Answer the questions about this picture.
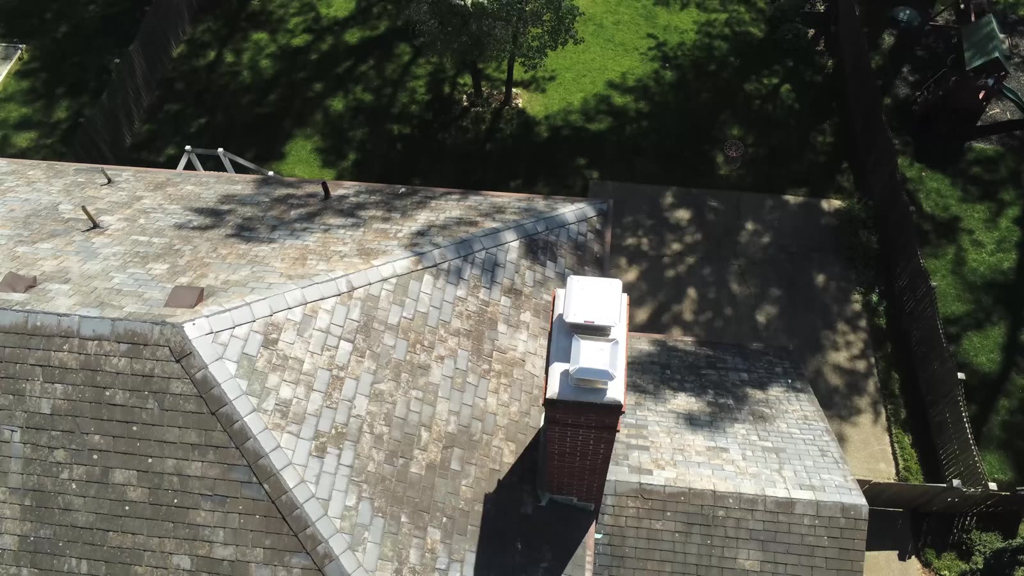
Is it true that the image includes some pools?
No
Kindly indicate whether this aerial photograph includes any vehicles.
No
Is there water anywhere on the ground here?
No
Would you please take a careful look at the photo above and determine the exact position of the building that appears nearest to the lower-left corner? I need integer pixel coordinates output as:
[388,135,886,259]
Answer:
[0,158,870,576]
